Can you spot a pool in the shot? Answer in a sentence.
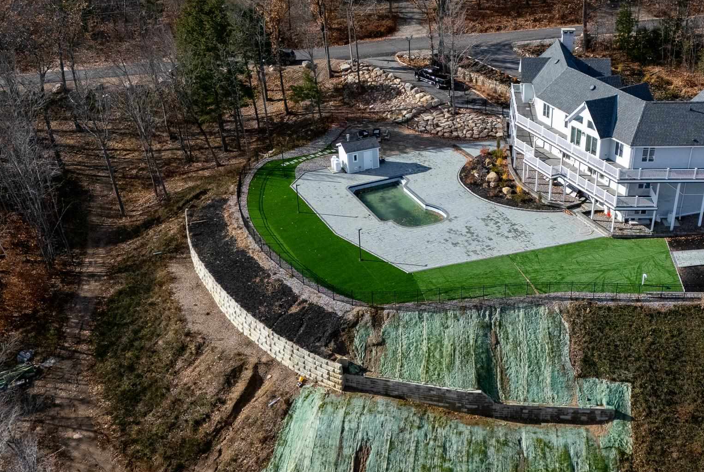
Yes, this view includes a pool.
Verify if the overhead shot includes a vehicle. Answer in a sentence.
Yes, a vehicle can be made out from above.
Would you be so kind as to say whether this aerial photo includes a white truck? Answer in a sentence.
No, the scene contains no white truck.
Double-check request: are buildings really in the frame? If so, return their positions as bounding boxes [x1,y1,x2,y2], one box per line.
[516,25,704,217]
[337,128,381,173]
